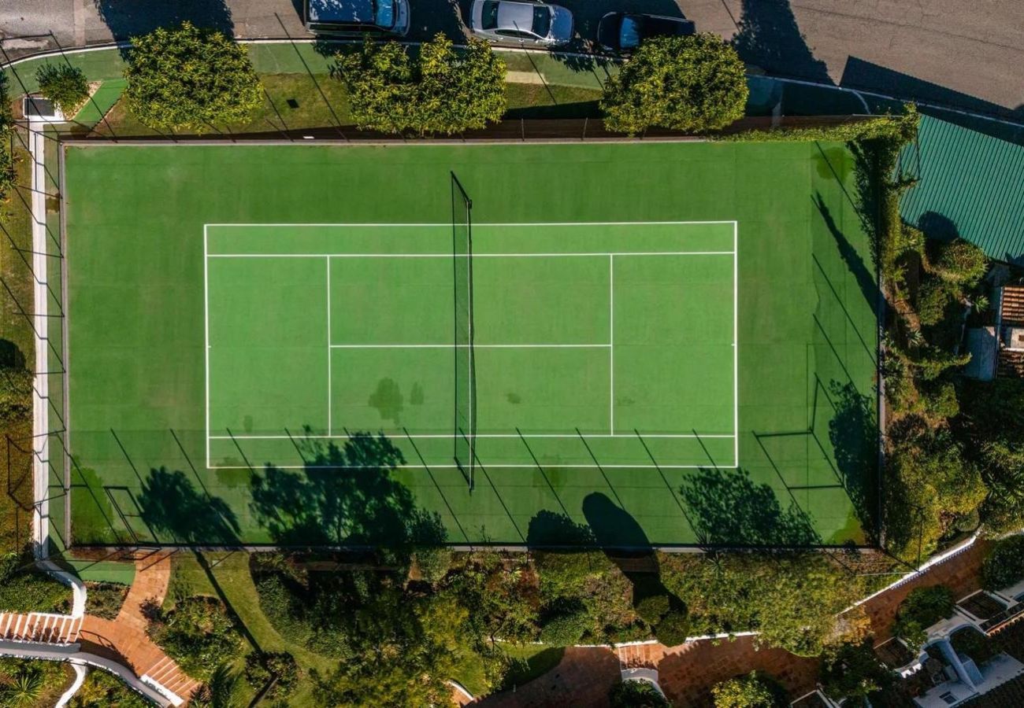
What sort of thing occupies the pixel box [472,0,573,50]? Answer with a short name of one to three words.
car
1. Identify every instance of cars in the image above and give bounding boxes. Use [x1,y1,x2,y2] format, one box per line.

[599,4,697,56]
[472,0,573,50]
[300,0,411,41]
